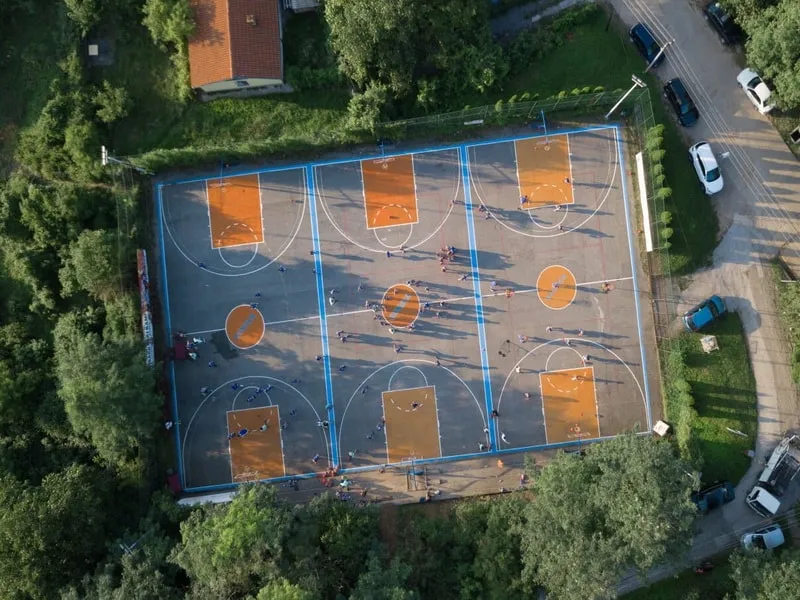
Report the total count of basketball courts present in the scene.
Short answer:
3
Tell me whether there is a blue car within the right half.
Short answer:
Yes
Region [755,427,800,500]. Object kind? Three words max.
trailer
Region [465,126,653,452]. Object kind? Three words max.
basketball court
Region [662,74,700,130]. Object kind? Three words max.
car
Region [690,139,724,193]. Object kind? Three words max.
car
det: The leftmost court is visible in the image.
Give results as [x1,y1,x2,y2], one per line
[155,164,339,491]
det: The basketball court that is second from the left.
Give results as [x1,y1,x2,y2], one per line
[310,145,496,473]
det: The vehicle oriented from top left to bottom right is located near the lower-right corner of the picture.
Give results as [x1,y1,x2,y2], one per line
[735,481,788,522]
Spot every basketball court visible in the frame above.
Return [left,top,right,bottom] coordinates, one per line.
[155,164,339,491]
[465,126,653,452]
[310,145,496,473]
